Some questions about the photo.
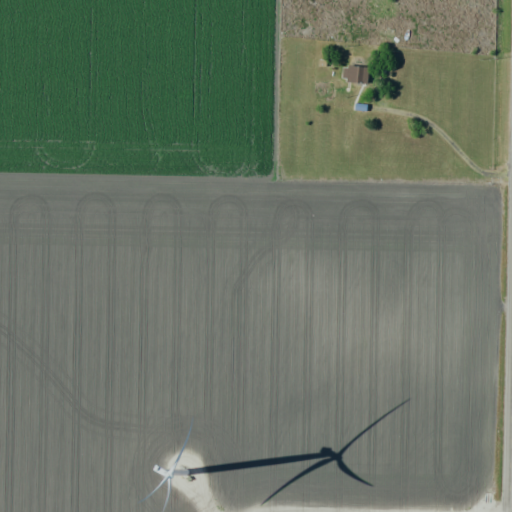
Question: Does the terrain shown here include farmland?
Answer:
Yes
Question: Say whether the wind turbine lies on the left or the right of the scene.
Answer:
left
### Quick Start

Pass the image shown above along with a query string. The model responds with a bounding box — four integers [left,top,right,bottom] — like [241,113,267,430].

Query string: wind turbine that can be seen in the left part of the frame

[139,422,194,512]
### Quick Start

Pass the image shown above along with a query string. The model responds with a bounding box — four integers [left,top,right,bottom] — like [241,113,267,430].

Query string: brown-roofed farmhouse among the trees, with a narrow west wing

[344,65,368,85]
